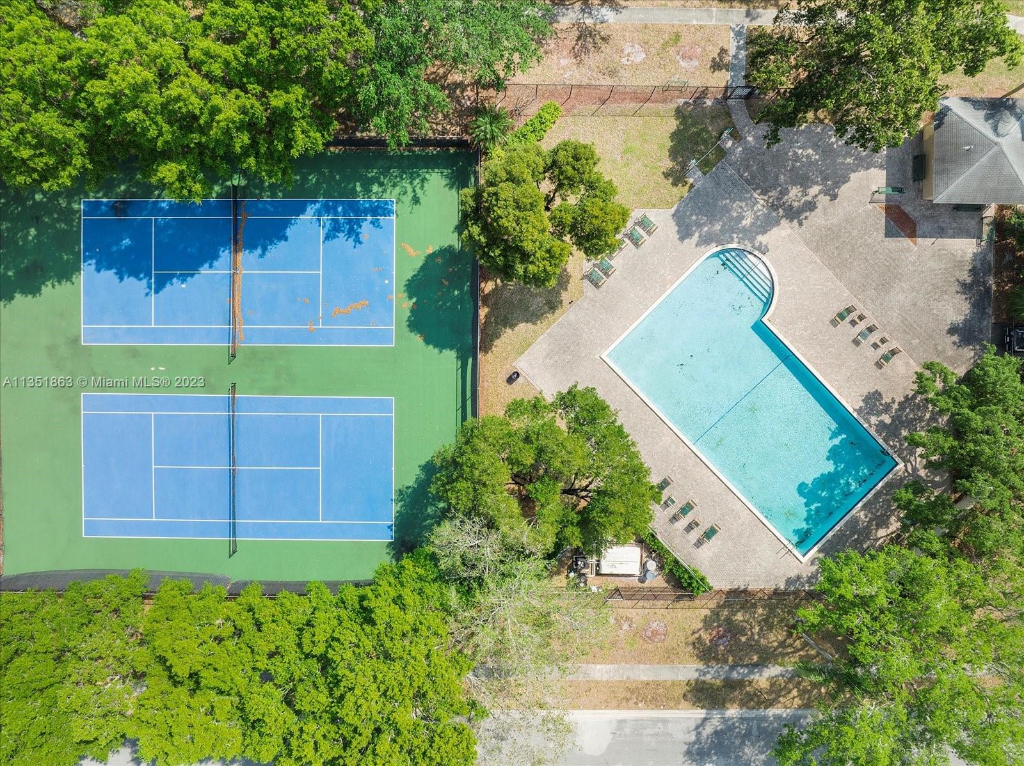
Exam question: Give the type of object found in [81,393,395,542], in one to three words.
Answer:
tennis court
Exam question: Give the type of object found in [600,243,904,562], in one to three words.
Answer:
swimming pool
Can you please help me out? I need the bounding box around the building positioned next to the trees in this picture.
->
[923,98,1024,205]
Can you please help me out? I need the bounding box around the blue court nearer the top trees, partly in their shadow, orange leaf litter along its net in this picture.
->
[81,199,396,347]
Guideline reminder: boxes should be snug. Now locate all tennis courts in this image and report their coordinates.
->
[81,199,396,347]
[81,393,395,542]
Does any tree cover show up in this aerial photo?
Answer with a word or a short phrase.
Yes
